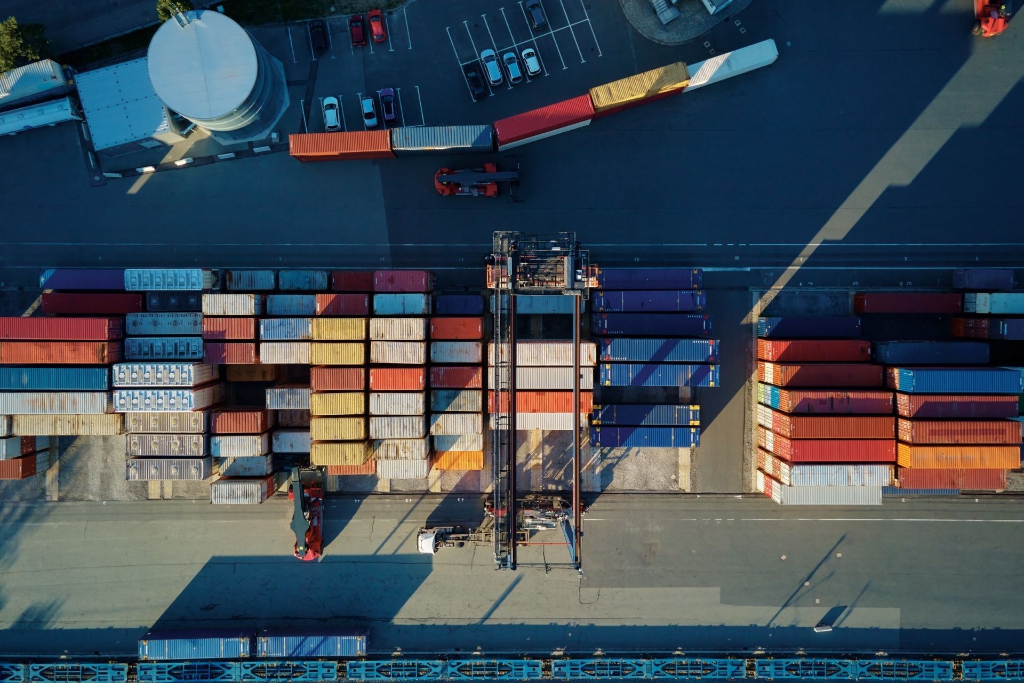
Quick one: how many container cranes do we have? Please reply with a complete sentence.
Altogether the scene contains 1 container crane.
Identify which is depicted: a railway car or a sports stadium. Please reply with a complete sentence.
It is a railway car that can be seen here.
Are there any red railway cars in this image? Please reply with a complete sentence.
No, the photo shows no red railway car.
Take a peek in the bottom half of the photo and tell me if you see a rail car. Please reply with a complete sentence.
Yes, a rail car can be seen in the bottom half of the photo.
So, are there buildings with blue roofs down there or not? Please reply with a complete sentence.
Yes, the photo shows a building with a blue roof.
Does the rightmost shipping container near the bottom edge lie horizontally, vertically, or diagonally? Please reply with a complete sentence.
I'd say the rightmost shipping container near the bottom edge is aligned horizontally in the picture.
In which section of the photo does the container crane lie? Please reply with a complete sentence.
The container crane sits in the center section of the image.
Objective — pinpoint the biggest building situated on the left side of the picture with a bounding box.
[76,56,183,157]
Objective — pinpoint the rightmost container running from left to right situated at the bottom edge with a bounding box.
[258,629,369,657]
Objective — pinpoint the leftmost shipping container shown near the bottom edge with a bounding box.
[140,631,255,658]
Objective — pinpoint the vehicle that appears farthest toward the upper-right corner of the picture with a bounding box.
[971,0,1013,38]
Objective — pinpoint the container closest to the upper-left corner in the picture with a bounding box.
[0,58,64,102]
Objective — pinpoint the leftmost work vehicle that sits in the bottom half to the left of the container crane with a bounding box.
[279,474,327,562]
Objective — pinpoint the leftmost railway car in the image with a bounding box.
[0,661,29,682]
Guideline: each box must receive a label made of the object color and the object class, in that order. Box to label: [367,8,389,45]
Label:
red car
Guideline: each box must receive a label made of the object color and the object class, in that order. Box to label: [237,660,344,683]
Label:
blue rail car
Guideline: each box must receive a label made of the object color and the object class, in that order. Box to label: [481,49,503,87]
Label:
blue car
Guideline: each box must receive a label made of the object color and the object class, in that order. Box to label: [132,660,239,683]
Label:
blue rail car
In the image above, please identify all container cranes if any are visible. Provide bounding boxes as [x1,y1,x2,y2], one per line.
[485,228,598,585]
